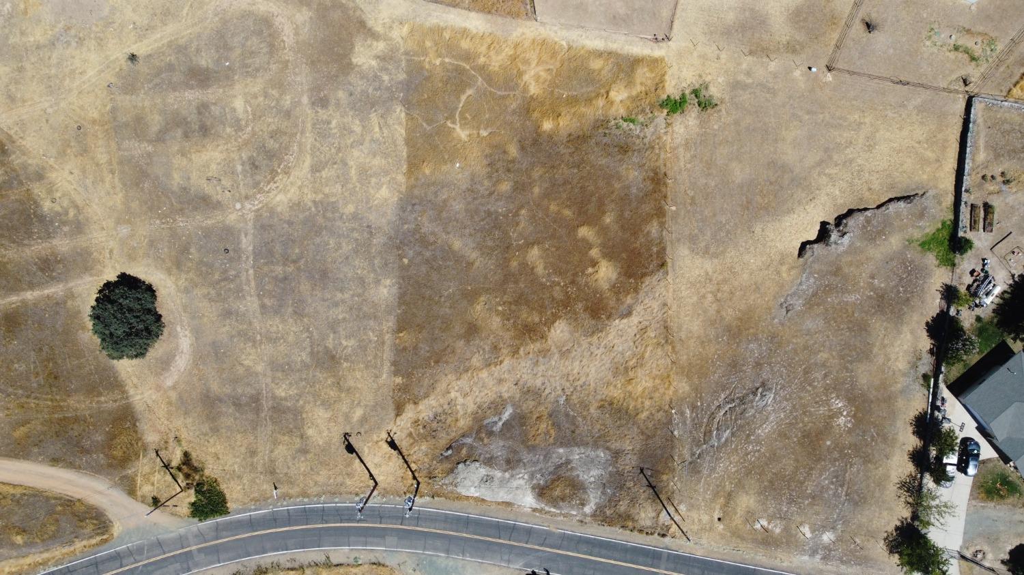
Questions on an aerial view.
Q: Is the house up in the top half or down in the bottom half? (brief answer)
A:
bottom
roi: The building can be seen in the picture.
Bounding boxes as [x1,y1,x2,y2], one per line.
[955,348,1024,468]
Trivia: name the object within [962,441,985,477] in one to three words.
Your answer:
car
